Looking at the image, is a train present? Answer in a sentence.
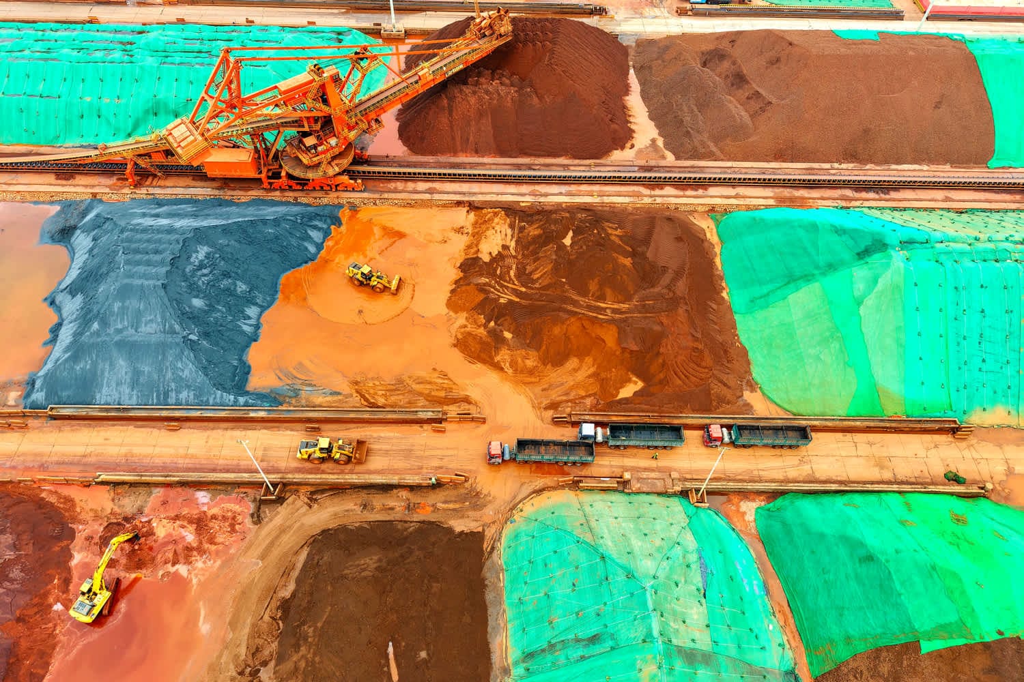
No, the picture doesn't show any train.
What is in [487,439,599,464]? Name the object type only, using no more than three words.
truck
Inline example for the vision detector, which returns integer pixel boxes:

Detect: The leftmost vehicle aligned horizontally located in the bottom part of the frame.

[294,439,368,466]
